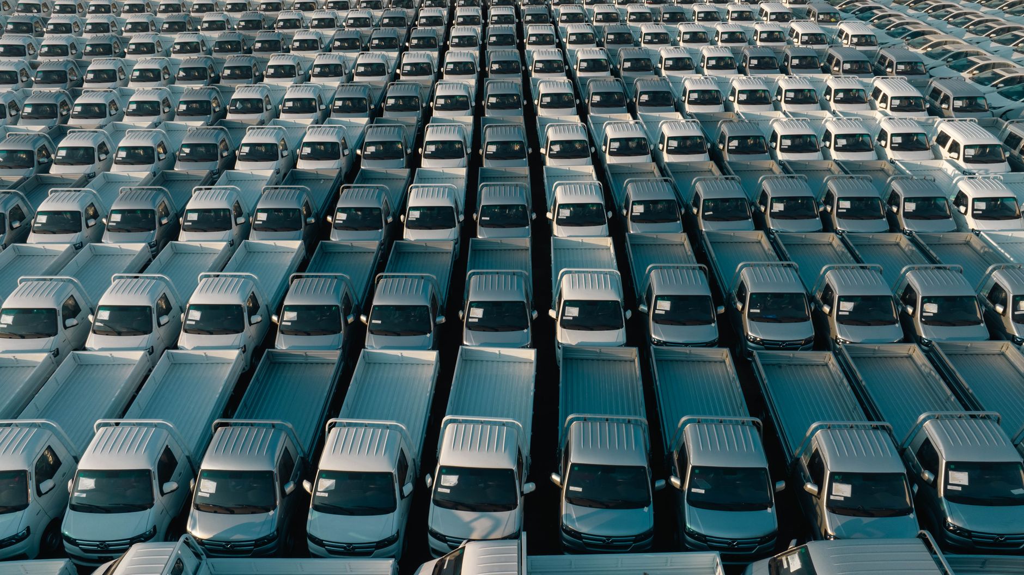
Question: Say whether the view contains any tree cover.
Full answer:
No, there's no tree cover in this view.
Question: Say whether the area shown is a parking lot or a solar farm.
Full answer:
The picture captures a parking lot.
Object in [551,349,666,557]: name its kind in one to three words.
truck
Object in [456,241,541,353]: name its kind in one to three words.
truck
